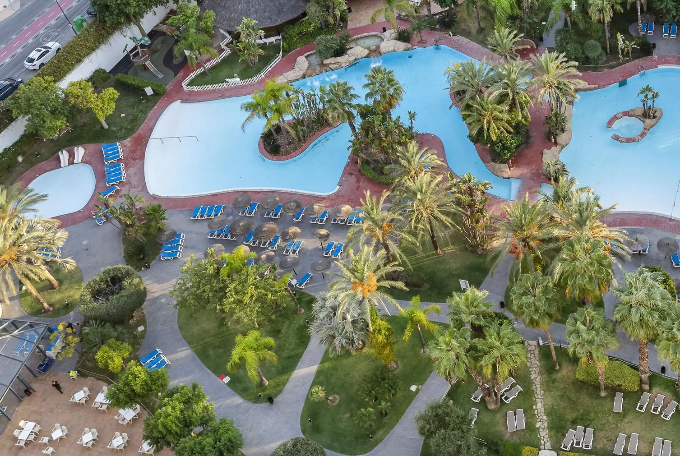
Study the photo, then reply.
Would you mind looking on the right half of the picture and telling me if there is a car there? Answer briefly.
No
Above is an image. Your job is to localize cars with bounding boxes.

[79,0,105,20]
[22,43,62,68]
[0,79,24,102]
